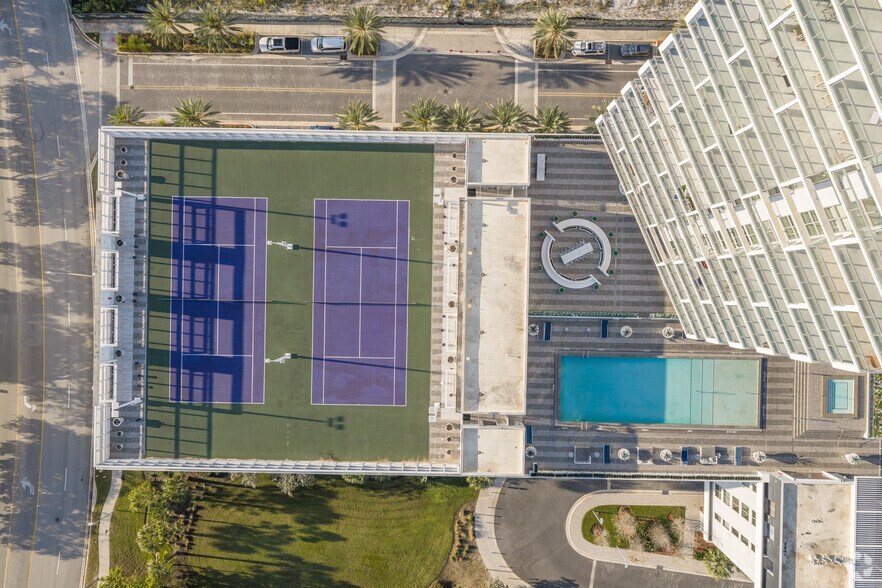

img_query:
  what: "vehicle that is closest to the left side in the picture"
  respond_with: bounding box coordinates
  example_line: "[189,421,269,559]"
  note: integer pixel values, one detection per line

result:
[259,37,301,57]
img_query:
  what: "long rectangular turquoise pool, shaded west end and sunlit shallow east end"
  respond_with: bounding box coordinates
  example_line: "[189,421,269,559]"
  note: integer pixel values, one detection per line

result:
[551,350,769,436]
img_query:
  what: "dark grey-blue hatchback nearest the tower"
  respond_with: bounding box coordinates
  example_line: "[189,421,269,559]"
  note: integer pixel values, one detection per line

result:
[619,41,651,59]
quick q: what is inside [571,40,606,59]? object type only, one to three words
vehicle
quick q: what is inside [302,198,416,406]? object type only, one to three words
tennis court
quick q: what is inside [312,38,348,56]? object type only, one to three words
car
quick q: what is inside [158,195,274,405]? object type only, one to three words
tennis court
